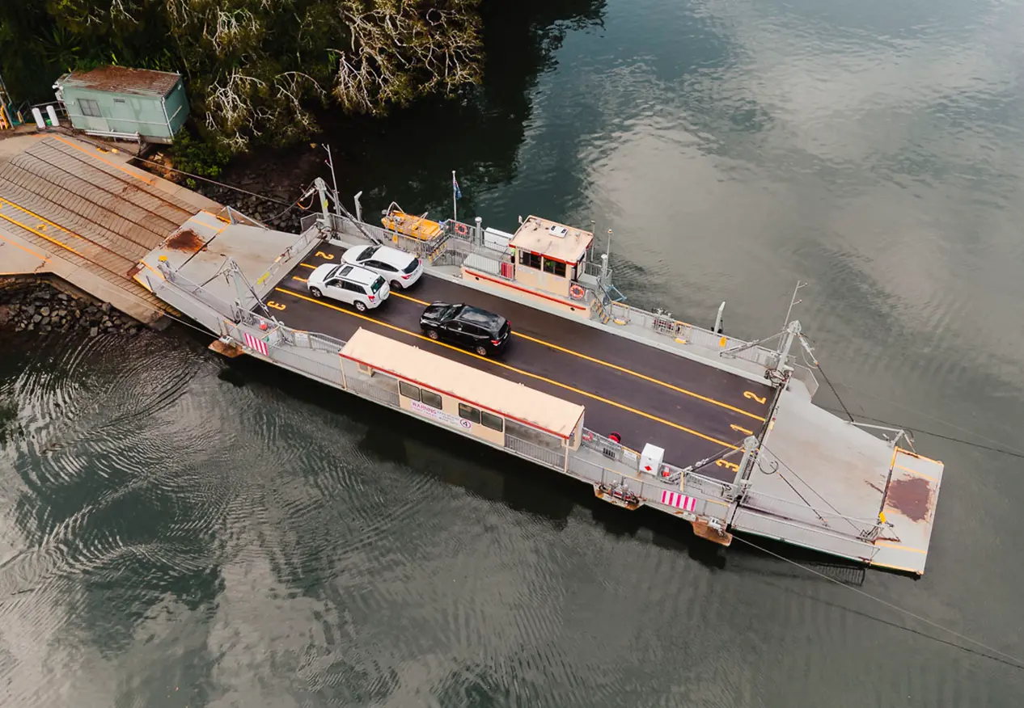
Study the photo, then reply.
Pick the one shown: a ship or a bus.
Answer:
ship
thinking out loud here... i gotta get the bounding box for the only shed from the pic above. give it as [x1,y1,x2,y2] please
[55,62,189,142]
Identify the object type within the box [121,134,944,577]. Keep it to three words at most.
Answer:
ship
